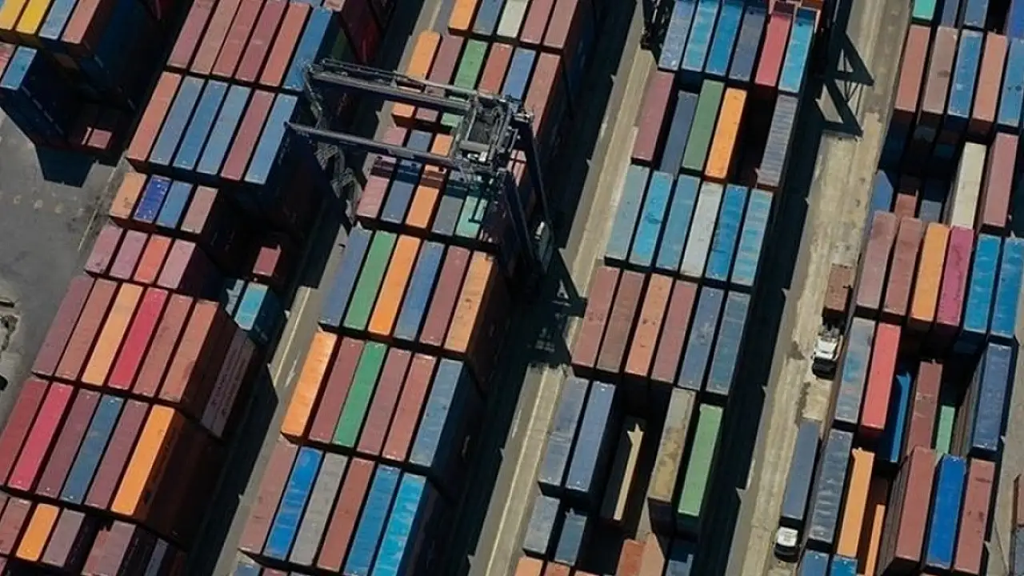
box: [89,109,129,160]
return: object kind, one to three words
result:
shipping container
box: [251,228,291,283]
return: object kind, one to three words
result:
shipping container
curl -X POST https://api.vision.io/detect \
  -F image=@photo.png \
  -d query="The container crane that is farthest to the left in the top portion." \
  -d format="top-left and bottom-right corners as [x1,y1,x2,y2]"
[287,61,556,278]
